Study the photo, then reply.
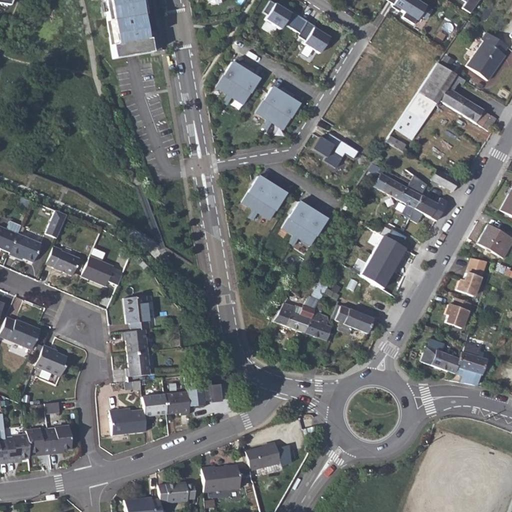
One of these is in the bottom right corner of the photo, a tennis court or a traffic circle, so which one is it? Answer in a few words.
traffic circle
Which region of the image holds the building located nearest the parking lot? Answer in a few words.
top left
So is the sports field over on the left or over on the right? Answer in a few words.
right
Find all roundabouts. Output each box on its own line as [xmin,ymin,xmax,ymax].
[326,367,419,460]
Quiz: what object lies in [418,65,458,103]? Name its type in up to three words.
building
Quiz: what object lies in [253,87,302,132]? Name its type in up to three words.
house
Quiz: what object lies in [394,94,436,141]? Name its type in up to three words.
building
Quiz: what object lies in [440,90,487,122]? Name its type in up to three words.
house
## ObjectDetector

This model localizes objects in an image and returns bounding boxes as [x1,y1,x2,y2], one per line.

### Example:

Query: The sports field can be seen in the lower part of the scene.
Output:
[404,431,512,512]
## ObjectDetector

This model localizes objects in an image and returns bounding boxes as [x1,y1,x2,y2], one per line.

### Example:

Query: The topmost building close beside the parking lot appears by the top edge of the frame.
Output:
[98,0,156,60]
